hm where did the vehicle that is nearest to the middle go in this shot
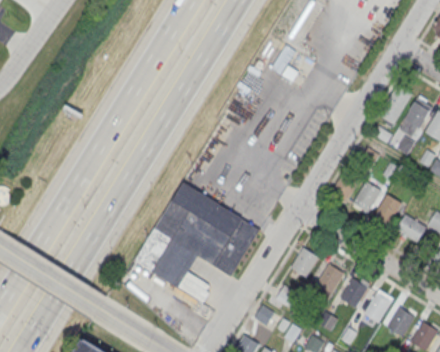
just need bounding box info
[216,162,231,184]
